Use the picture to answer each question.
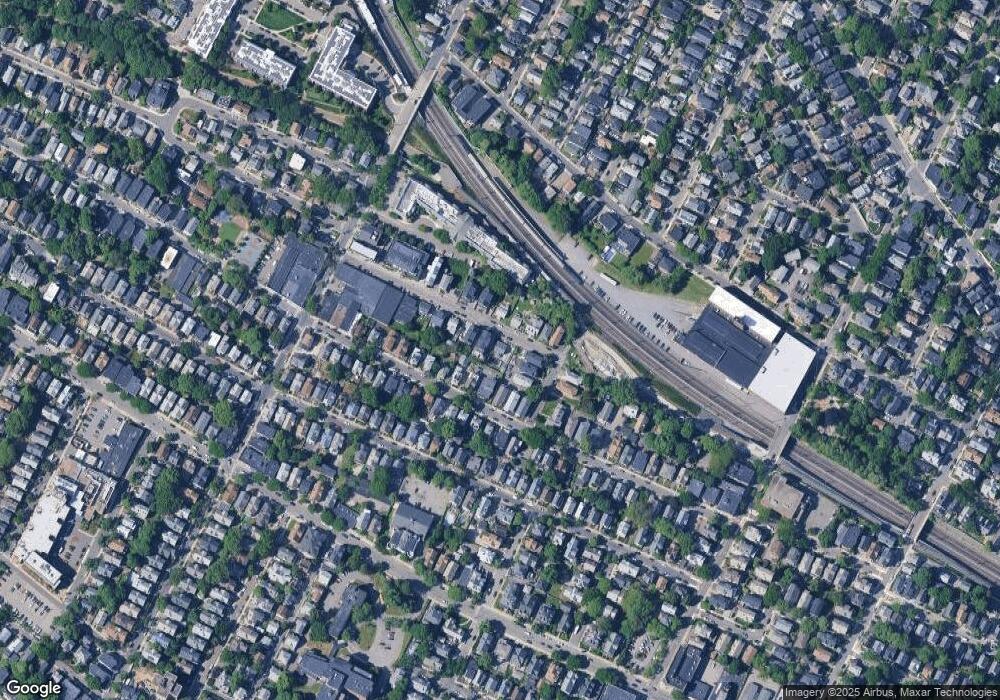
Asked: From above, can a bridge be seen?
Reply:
Yes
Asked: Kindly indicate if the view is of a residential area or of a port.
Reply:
residential area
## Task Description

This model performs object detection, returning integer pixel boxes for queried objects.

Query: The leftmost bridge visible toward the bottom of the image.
[761,404,803,471]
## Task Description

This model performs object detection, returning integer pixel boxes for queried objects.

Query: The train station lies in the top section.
[354,0,411,88]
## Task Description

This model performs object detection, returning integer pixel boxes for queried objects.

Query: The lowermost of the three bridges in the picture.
[904,479,948,548]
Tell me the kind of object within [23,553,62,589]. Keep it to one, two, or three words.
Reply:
building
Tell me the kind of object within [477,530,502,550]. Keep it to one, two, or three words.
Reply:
house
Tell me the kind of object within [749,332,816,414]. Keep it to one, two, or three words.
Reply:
building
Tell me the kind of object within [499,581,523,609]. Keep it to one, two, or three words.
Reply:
house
